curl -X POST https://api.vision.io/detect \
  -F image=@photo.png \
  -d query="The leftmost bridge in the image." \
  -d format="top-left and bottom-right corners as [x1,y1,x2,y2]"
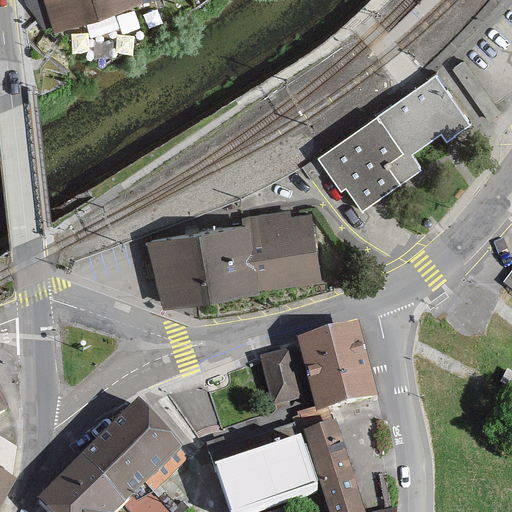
[0,92,52,248]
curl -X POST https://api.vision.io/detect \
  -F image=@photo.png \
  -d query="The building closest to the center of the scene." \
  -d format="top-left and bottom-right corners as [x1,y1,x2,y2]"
[146,206,322,310]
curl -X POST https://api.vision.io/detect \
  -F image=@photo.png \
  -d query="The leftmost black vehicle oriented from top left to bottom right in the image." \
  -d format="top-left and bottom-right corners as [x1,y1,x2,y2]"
[289,170,311,192]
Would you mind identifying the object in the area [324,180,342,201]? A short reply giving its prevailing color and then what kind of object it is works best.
red car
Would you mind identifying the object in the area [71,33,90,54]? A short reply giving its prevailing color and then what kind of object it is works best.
white umbrella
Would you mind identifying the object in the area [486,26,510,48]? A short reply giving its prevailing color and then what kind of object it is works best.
white car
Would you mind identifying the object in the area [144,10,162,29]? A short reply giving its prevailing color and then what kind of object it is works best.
white umbrella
